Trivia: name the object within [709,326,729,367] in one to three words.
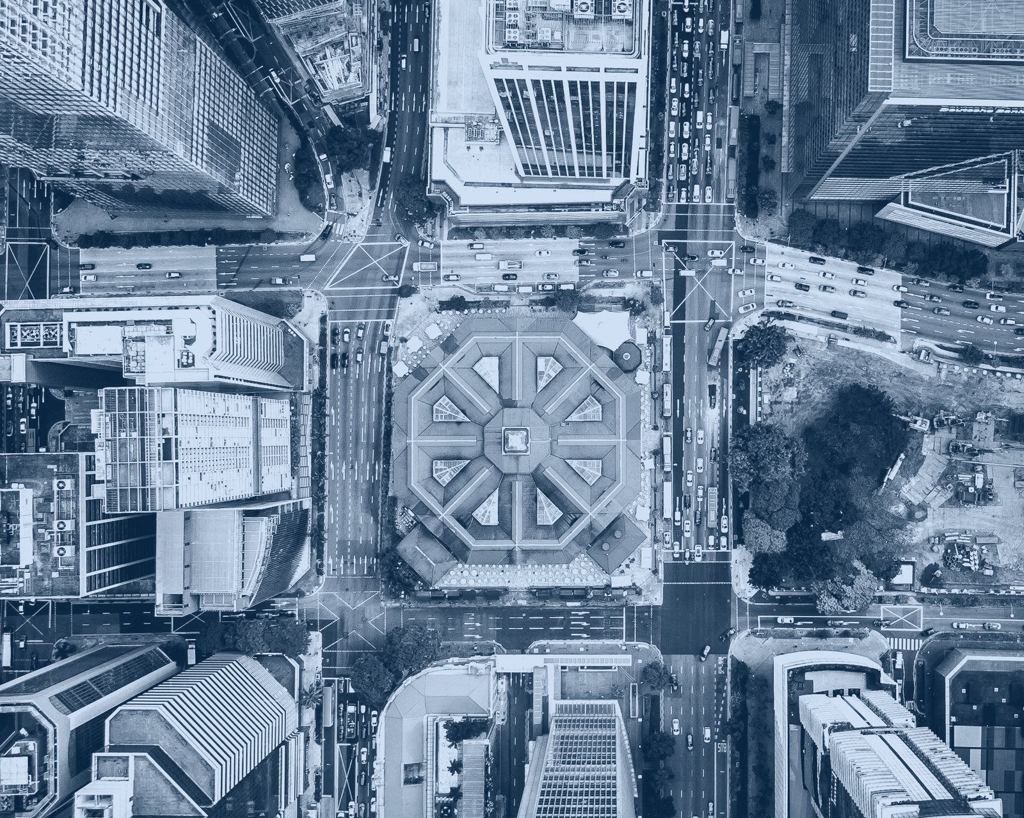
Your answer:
bus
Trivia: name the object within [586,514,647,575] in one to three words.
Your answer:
building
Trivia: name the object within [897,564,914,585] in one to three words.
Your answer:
shed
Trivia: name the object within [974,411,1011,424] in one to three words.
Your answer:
vehicle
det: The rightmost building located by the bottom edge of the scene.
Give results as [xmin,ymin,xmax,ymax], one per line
[925,643,1024,818]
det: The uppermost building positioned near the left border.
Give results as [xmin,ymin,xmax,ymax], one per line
[0,0,279,217]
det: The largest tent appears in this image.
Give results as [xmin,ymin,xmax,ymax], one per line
[573,310,635,351]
